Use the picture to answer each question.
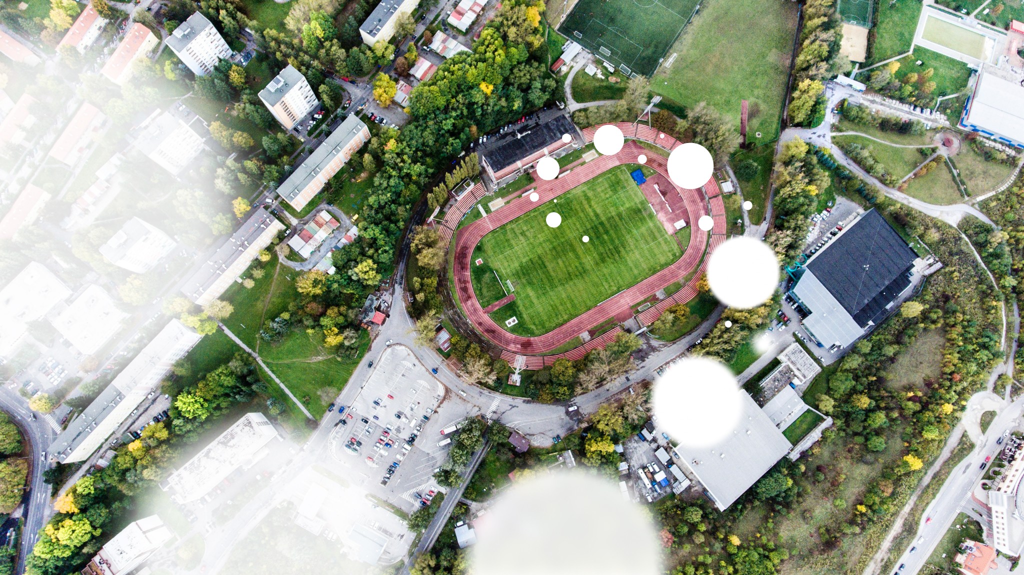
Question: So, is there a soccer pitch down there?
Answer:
Yes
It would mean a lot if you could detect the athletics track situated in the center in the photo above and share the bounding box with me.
[447,139,711,358]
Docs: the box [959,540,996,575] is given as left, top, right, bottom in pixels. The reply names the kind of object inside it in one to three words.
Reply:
house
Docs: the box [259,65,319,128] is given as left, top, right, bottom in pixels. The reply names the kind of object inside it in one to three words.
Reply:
building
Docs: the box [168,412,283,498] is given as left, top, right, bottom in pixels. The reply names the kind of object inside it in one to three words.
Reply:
building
